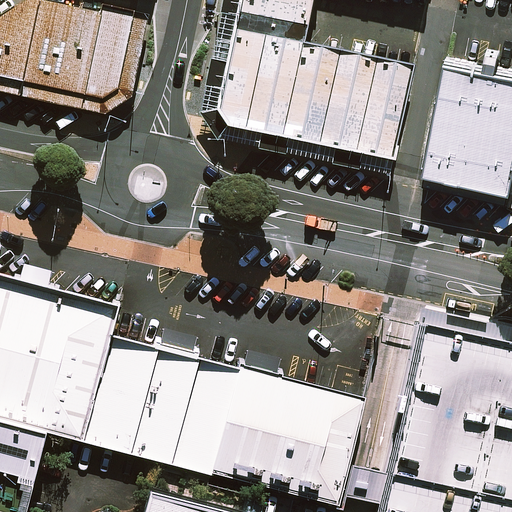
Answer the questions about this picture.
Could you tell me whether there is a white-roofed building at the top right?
Yes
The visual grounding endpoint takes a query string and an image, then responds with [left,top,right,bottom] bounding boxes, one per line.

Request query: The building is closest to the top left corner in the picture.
[0,0,147,114]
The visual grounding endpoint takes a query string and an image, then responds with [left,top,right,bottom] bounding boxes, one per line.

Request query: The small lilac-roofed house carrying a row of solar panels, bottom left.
[0,426,46,488]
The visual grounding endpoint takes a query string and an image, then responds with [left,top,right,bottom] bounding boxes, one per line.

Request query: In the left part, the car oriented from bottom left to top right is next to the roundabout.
[145,200,168,218]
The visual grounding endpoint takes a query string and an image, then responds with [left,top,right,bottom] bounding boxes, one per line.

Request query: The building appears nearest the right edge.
[423,48,512,208]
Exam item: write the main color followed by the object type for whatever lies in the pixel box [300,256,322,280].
black car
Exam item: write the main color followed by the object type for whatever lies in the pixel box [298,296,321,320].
black car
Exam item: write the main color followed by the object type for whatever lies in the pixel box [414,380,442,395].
white vehicle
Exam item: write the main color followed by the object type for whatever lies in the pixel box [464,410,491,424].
white vehicle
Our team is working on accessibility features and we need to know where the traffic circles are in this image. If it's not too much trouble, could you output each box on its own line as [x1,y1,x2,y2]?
[128,164,167,202]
